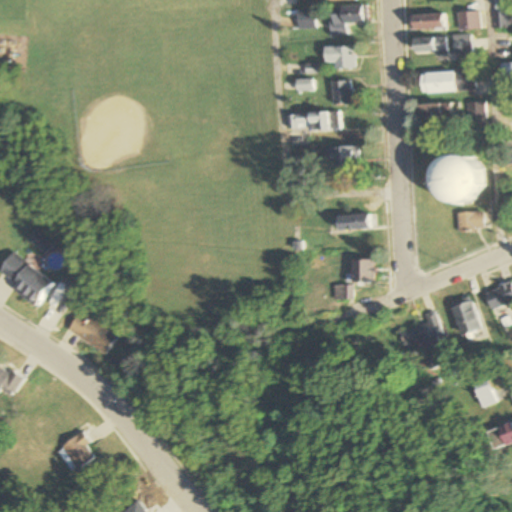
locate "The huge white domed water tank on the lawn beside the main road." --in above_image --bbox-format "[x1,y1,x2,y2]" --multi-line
[428,154,486,206]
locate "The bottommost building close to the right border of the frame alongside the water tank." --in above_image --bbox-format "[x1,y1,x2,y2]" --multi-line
[458,211,488,230]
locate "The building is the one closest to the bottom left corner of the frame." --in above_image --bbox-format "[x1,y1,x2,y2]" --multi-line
[58,432,98,470]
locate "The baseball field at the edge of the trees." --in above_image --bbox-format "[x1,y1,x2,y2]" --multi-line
[75,89,156,174]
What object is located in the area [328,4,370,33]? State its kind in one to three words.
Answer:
house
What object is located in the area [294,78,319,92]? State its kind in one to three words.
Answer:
building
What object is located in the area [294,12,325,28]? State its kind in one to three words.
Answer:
building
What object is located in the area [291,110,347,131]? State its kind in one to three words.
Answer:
house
